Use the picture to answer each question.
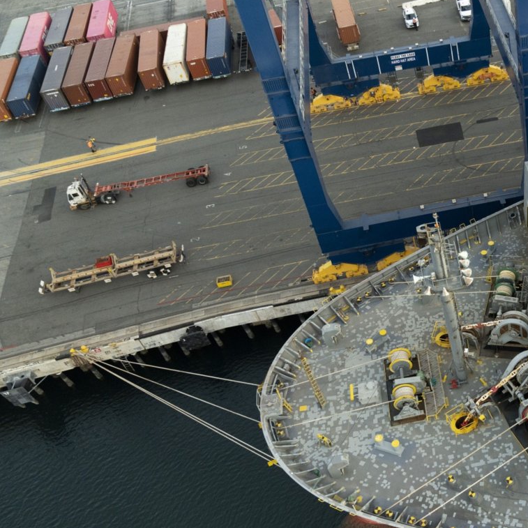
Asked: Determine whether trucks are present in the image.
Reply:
Yes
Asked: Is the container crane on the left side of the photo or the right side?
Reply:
right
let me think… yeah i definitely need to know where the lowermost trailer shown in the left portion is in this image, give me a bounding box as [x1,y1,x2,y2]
[28,235,183,295]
